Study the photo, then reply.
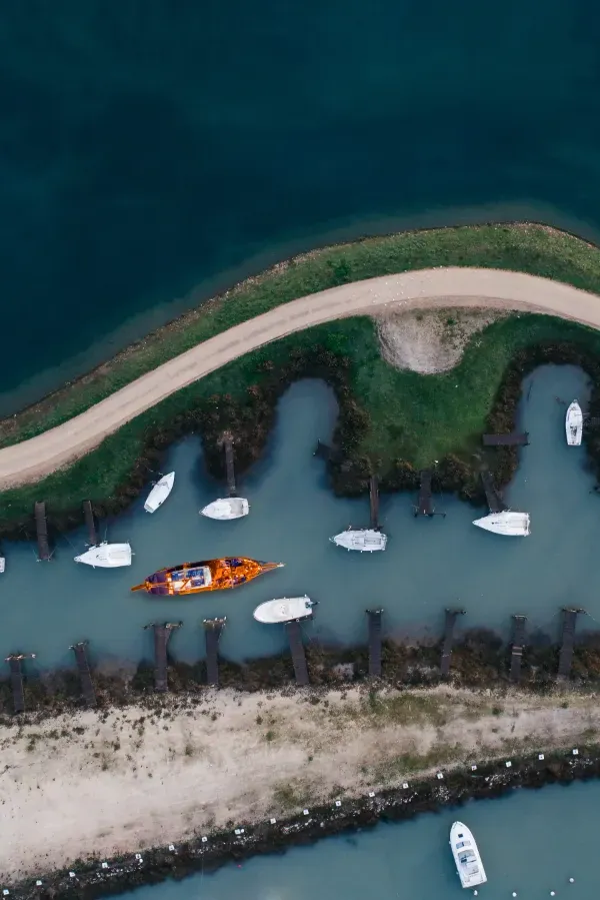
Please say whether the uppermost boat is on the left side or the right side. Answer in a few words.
right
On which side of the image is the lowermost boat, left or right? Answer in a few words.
right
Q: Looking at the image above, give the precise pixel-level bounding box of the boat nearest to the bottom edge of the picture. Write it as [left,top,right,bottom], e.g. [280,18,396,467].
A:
[450,819,488,891]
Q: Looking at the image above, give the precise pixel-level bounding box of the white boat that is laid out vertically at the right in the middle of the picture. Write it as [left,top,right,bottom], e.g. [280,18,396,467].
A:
[564,398,587,446]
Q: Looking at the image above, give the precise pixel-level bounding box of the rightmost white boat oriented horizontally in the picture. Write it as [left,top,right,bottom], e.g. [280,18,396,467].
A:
[471,509,534,538]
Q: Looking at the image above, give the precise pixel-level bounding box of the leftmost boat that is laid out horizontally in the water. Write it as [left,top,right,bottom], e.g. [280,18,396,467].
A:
[71,542,136,567]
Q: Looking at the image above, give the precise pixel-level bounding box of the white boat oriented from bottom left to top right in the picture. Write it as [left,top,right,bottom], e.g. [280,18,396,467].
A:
[145,472,175,513]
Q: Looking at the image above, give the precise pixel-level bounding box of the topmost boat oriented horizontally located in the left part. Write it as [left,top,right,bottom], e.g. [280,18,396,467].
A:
[198,497,252,520]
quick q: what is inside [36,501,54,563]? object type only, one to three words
pier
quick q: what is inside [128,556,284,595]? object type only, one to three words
ship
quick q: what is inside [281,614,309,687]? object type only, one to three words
pier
